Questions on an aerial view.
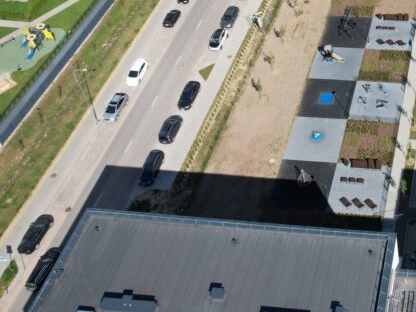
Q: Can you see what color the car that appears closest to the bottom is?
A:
black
